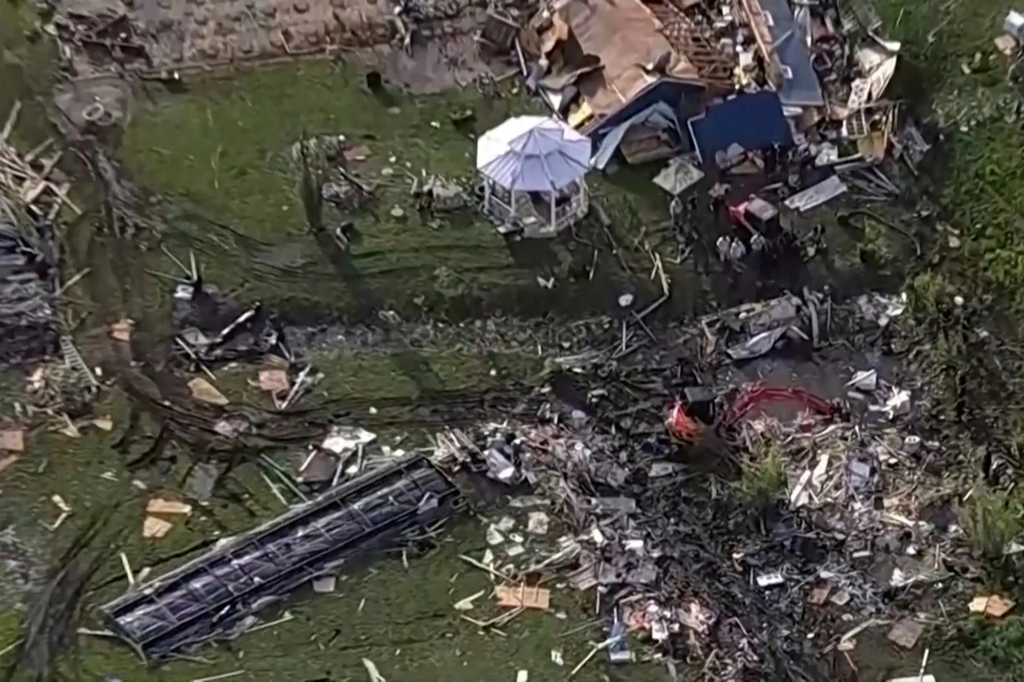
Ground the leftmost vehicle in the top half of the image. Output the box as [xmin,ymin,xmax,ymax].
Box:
[719,199,786,251]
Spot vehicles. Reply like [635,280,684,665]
[719,199,786,251]
[666,386,858,461]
